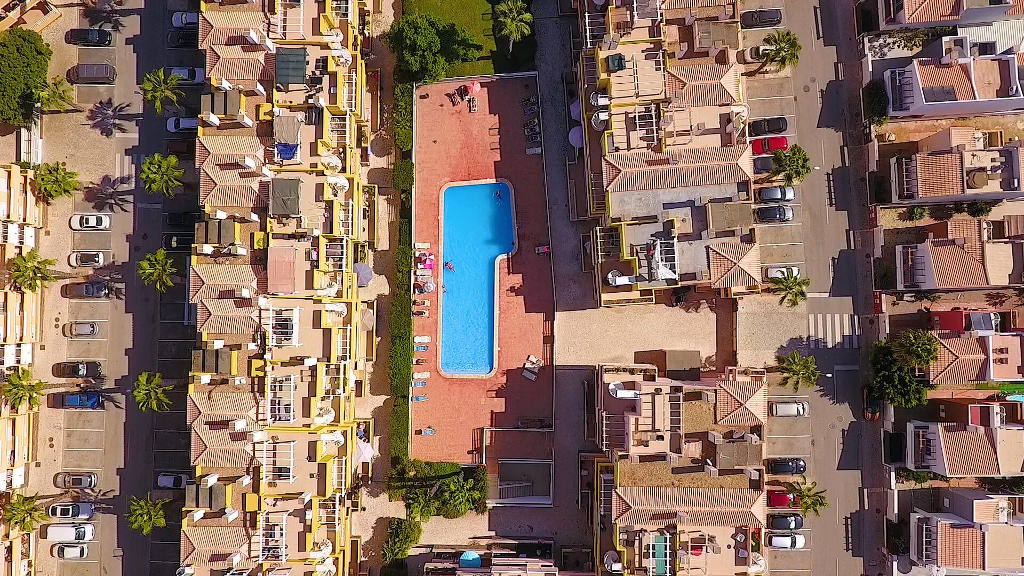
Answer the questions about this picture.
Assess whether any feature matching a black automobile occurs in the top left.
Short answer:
Yes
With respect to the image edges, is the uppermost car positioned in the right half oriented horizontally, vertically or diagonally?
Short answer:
horizontally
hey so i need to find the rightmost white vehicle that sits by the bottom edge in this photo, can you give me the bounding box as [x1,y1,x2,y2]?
[766,531,804,552]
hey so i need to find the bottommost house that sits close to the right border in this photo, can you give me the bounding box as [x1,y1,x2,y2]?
[896,485,1024,576]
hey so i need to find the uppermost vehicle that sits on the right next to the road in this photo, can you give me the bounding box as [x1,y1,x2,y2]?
[740,8,782,29]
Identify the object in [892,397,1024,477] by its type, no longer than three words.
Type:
house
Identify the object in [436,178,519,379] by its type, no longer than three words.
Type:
swimming pool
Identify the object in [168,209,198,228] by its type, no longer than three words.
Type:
car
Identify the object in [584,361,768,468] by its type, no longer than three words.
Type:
house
